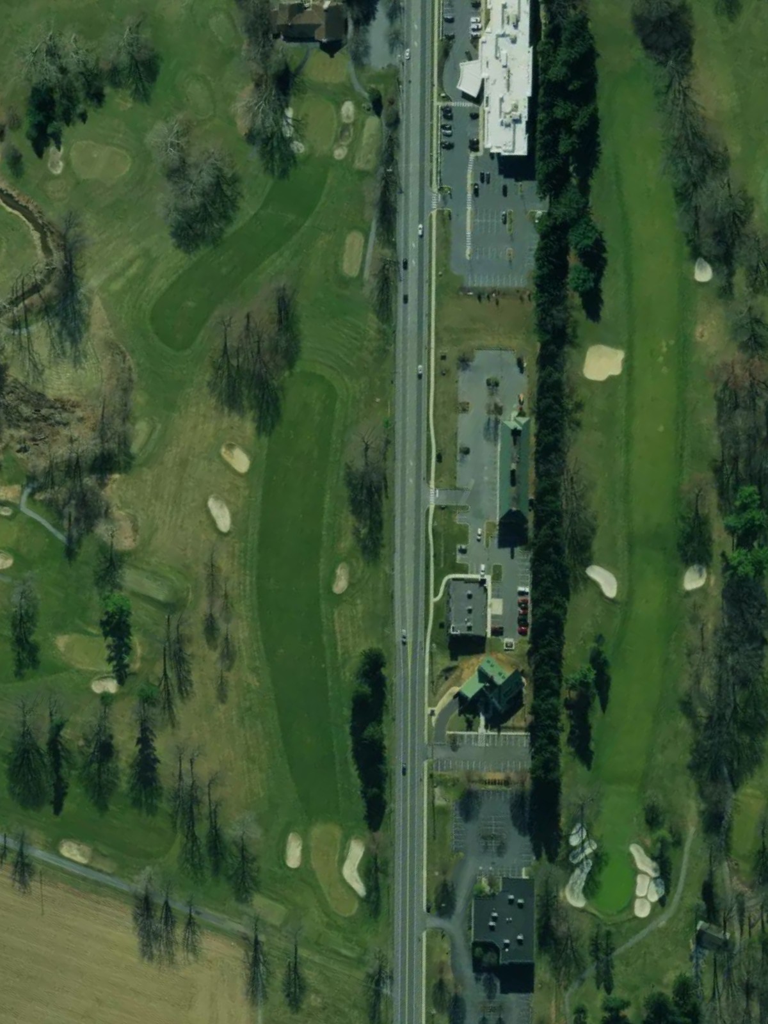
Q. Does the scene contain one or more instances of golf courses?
Yes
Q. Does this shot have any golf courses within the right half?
Yes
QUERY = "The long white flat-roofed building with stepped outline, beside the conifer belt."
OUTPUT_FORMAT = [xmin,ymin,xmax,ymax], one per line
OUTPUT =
[457,0,534,155]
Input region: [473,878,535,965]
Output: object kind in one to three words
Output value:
building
